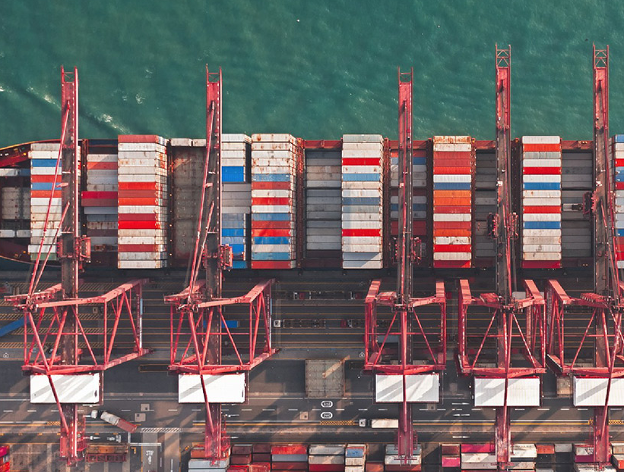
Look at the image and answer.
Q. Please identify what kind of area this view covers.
port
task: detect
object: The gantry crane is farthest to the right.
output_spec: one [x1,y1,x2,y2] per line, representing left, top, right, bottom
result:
[536,46,624,471]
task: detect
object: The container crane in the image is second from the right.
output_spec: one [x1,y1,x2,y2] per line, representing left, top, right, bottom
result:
[452,46,546,471]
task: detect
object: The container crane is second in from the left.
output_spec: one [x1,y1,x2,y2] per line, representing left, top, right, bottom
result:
[167,67,290,471]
